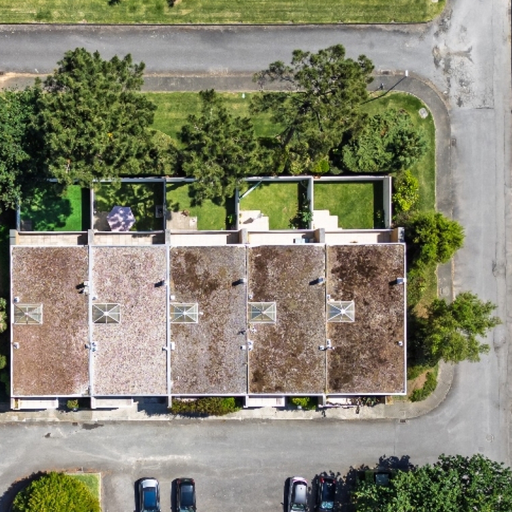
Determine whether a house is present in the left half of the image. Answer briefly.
Yes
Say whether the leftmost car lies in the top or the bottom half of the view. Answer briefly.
bottom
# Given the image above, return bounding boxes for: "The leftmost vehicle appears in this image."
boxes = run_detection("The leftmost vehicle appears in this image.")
[138,477,162,512]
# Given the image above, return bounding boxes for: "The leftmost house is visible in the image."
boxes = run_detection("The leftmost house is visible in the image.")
[10,231,90,409]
